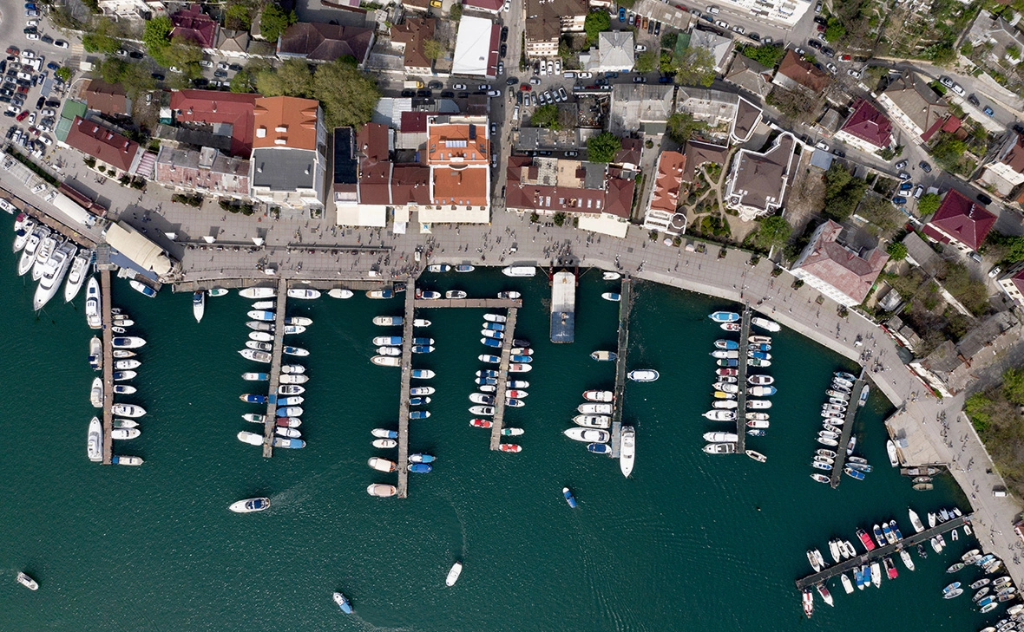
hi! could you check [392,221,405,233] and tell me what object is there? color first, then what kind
white umbrella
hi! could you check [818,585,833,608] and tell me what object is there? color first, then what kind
white boat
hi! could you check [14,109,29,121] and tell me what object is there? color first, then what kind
red vehicle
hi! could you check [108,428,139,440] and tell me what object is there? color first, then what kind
white boat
